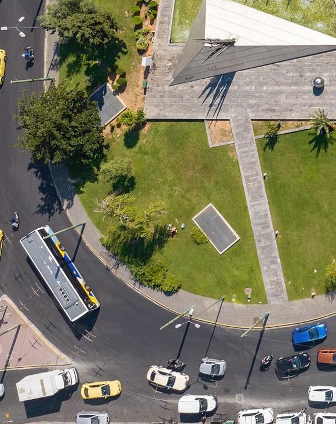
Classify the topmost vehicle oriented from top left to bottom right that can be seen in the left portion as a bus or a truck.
bus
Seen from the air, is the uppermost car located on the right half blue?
Yes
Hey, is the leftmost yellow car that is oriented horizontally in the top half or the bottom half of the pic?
bottom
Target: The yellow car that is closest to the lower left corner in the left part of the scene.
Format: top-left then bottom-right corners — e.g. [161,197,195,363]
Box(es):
[81,378,124,399]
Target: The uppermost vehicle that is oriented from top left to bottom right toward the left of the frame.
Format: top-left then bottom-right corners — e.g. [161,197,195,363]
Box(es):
[24,225,105,324]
